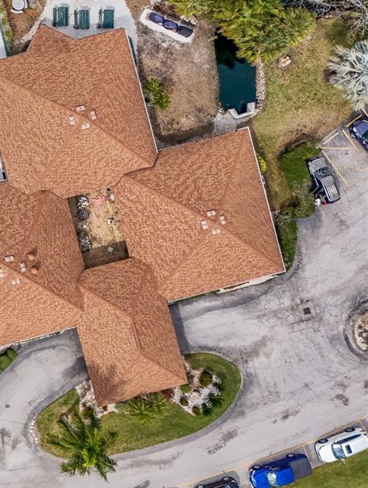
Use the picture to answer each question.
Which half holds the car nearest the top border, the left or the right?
right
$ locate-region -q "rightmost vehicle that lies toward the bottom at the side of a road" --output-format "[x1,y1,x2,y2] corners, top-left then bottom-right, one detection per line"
[314,426,368,462]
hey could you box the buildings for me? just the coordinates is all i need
[0,25,285,406]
